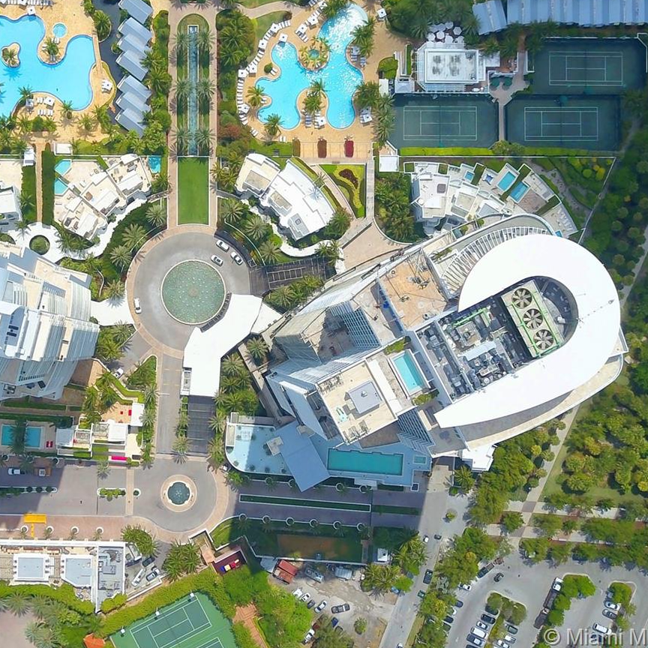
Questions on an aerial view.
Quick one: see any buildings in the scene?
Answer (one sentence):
Yes, this view includes a building.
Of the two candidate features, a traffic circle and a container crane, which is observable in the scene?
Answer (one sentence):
Looking from above, you can make out a traffic circle.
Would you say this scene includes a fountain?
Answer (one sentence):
Yes, looking at the shot, I can spot a fountain.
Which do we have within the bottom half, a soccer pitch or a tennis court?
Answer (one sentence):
Visible within the bottom half is a tennis court.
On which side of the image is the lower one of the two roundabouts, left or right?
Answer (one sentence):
The lower one of the two roundabouts sits on the left side.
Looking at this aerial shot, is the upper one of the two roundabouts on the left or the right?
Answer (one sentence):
It is on the left.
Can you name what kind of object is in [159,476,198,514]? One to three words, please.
fountain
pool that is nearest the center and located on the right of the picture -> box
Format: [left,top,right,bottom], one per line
[394,353,424,391]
